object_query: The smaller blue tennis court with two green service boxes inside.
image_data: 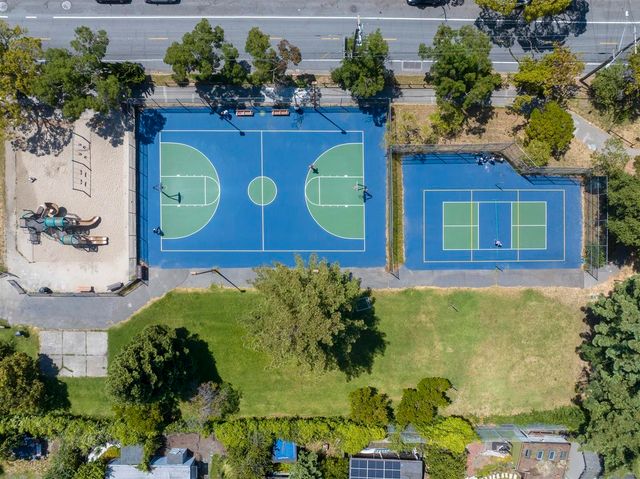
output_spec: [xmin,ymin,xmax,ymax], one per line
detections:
[402,151,582,271]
